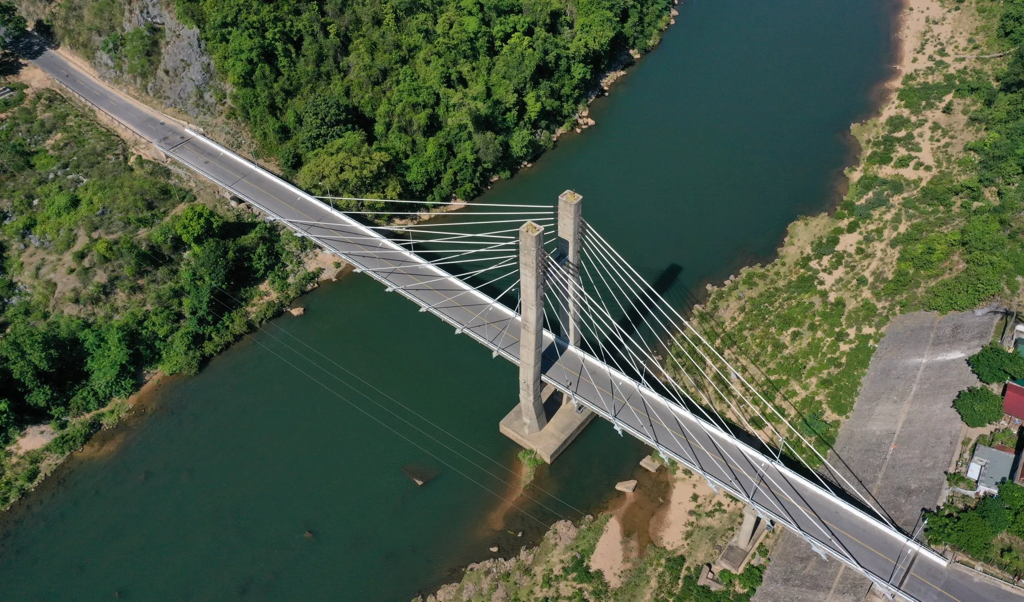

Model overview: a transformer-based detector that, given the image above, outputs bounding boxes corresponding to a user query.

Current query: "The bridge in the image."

[151,127,951,602]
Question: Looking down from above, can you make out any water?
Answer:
Yes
